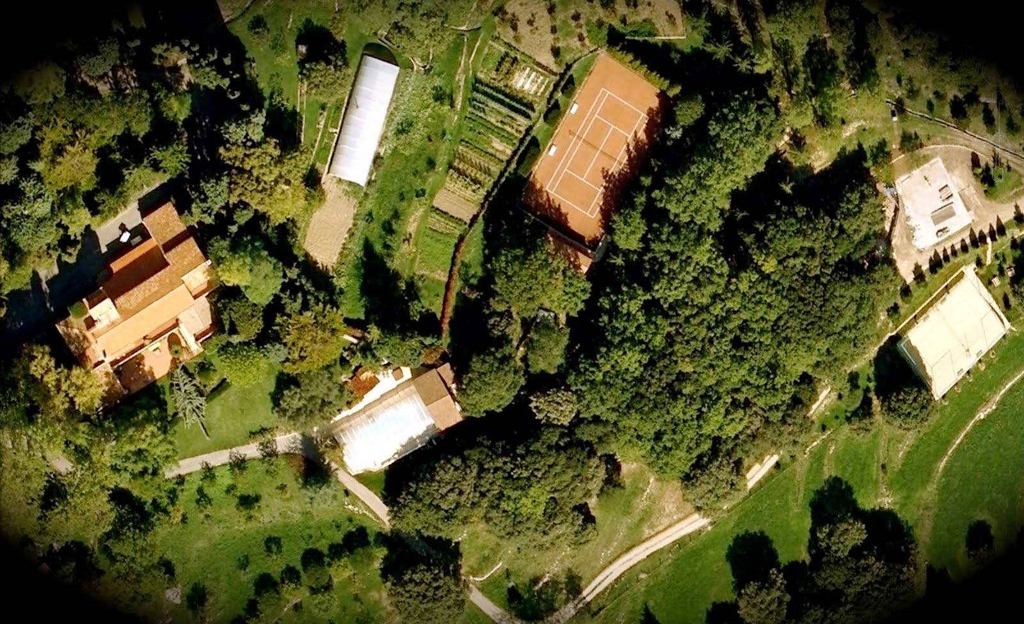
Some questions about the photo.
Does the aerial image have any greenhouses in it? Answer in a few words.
Yes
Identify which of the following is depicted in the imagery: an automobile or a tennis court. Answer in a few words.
tennis court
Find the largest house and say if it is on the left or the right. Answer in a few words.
left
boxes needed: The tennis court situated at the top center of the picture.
[517,48,676,251]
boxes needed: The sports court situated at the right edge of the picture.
[900,263,1012,401]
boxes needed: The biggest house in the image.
[55,202,218,405]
